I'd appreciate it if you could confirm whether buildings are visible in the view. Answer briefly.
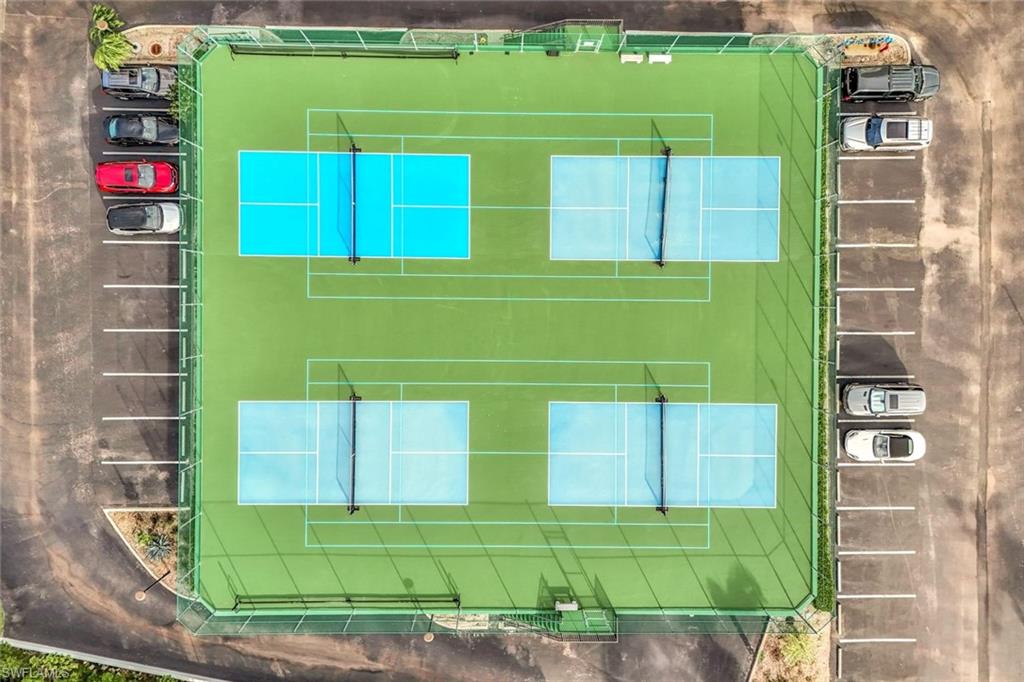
No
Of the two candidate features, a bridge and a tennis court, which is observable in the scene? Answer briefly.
tennis court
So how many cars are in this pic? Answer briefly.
8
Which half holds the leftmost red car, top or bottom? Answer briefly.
top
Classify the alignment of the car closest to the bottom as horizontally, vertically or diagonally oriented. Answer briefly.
horizontally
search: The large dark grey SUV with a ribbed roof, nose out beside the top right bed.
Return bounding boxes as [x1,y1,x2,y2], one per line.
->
[839,63,937,104]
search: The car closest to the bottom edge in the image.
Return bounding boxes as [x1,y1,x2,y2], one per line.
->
[843,429,925,466]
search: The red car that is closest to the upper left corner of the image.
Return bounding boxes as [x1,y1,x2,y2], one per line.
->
[97,158,183,195]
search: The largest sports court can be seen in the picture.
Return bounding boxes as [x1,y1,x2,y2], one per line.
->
[193,41,824,619]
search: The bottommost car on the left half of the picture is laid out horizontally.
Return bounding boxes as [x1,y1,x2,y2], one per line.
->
[104,201,186,237]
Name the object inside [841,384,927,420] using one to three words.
car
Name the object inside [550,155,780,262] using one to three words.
sports court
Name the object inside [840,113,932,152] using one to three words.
car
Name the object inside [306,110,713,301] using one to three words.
tennis court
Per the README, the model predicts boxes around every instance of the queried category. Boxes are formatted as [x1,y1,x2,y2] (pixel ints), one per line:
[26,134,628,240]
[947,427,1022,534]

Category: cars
[104,201,186,237]
[840,113,932,152]
[103,111,183,147]
[841,384,927,420]
[839,63,937,104]
[100,62,183,101]
[97,158,183,195]
[843,429,925,466]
